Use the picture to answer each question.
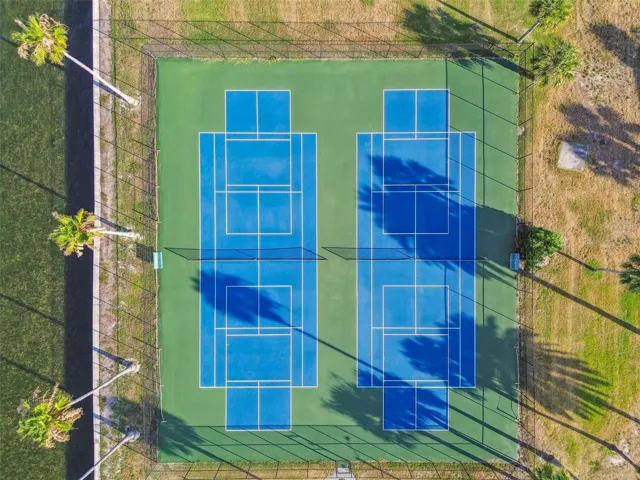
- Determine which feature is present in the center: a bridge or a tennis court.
tennis court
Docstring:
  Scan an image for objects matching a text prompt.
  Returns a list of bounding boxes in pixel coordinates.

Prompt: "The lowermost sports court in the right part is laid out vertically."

[383,286,449,431]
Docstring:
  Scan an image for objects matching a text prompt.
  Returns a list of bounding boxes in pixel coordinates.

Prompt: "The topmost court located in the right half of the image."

[383,89,449,234]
